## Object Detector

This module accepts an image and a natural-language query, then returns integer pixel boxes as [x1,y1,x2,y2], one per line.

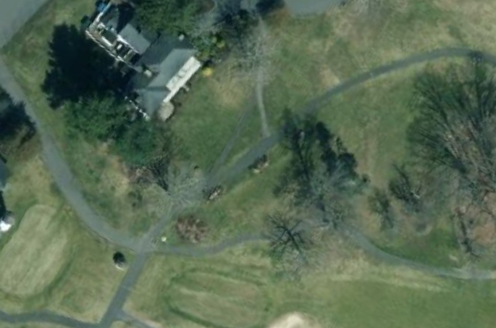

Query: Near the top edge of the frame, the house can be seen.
[79,2,204,126]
